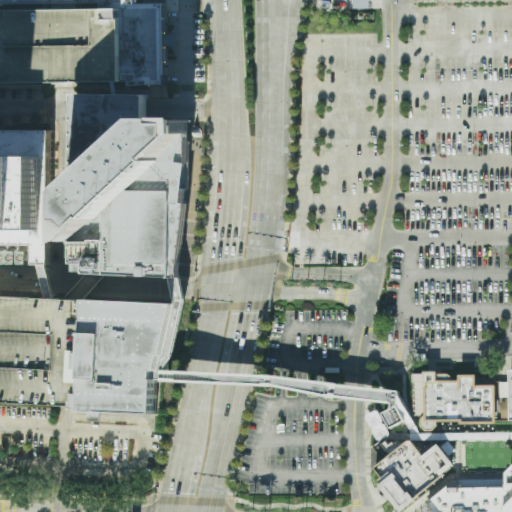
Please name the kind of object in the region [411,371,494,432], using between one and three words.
building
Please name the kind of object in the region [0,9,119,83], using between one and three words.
building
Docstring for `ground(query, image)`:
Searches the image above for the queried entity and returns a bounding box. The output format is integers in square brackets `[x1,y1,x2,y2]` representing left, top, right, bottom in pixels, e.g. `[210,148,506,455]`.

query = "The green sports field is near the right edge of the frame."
[465,441,512,469]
